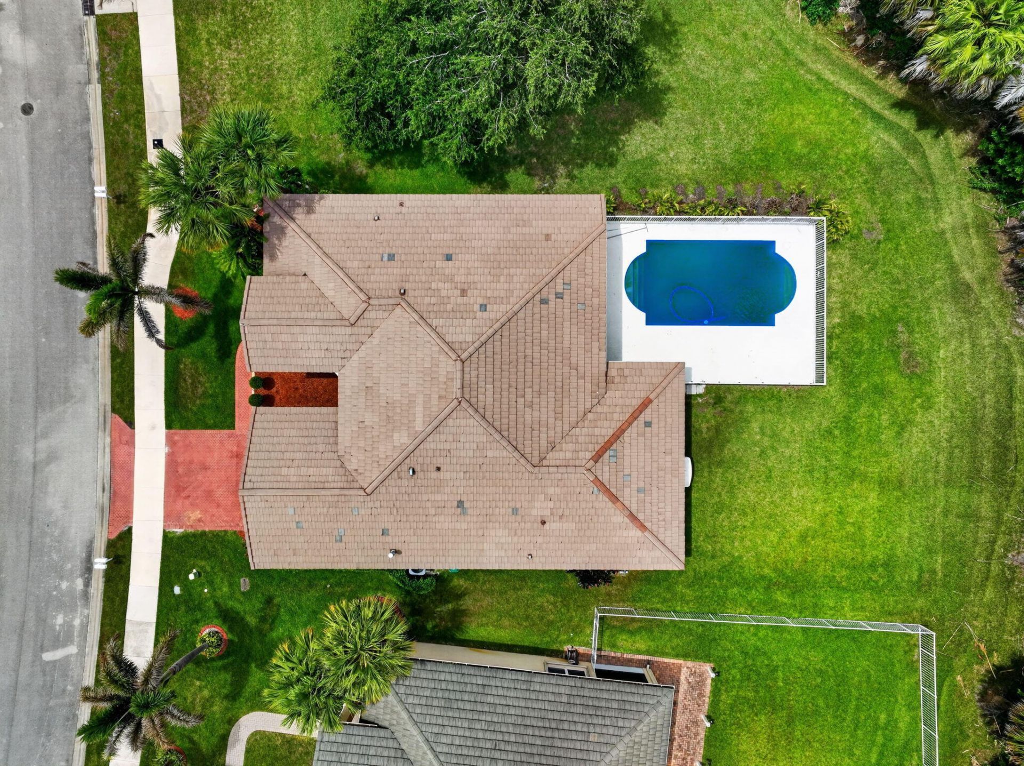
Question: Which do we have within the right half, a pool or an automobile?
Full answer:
The one visible within the right half is a pool.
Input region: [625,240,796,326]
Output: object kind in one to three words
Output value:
swimming pool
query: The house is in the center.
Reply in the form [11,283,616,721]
[233,193,691,571]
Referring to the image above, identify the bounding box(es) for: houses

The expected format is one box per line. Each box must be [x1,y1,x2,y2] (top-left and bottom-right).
[312,641,675,766]
[233,193,691,571]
